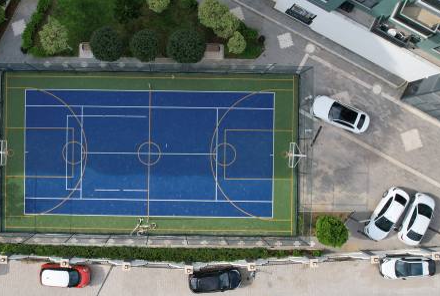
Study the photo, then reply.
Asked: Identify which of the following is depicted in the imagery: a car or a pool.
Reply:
car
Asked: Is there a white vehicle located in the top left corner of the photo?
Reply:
No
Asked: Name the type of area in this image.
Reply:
sports ground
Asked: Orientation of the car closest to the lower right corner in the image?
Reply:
from side to side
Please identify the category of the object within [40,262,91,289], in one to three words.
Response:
car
